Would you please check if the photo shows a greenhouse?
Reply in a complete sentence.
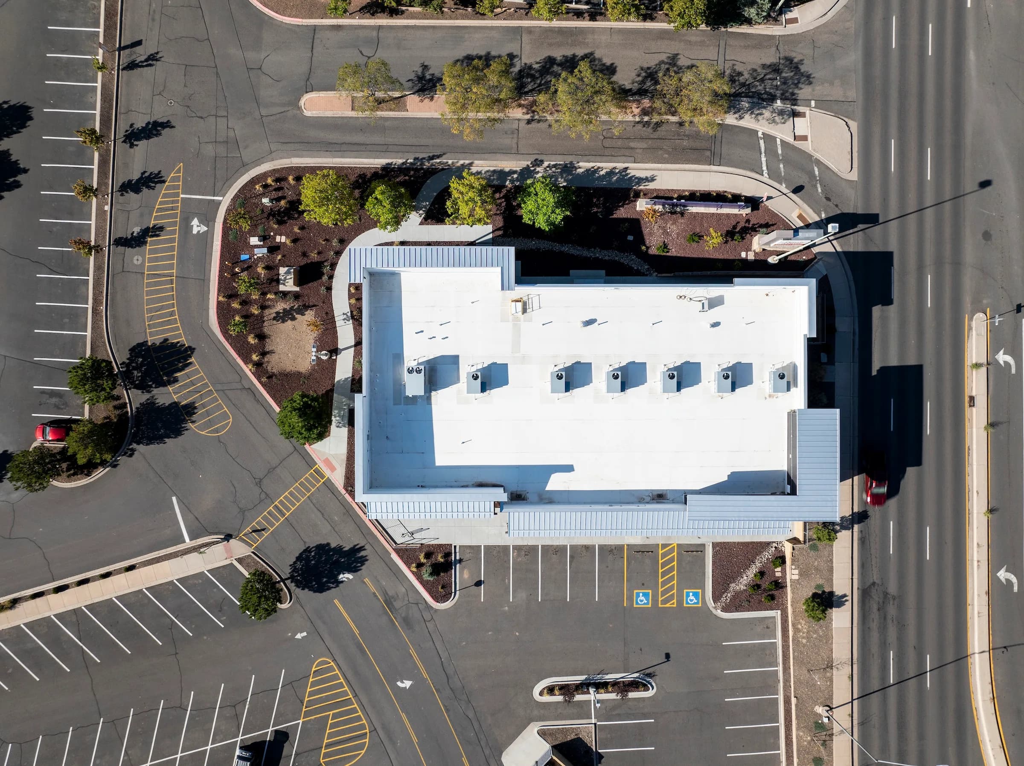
No, the scene contains no greenhouse.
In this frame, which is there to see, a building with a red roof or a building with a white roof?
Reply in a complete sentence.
I can see a building with a white roof in this picture.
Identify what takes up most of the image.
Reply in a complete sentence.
For the most part, this view shows paved ground.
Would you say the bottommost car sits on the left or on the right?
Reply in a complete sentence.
It is on the left.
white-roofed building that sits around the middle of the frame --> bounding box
[349,246,841,536]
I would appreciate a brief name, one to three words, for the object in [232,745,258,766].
car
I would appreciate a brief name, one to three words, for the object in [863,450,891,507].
truck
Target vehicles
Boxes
[232,745,258,766]
[863,450,891,507]
[38,421,83,444]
